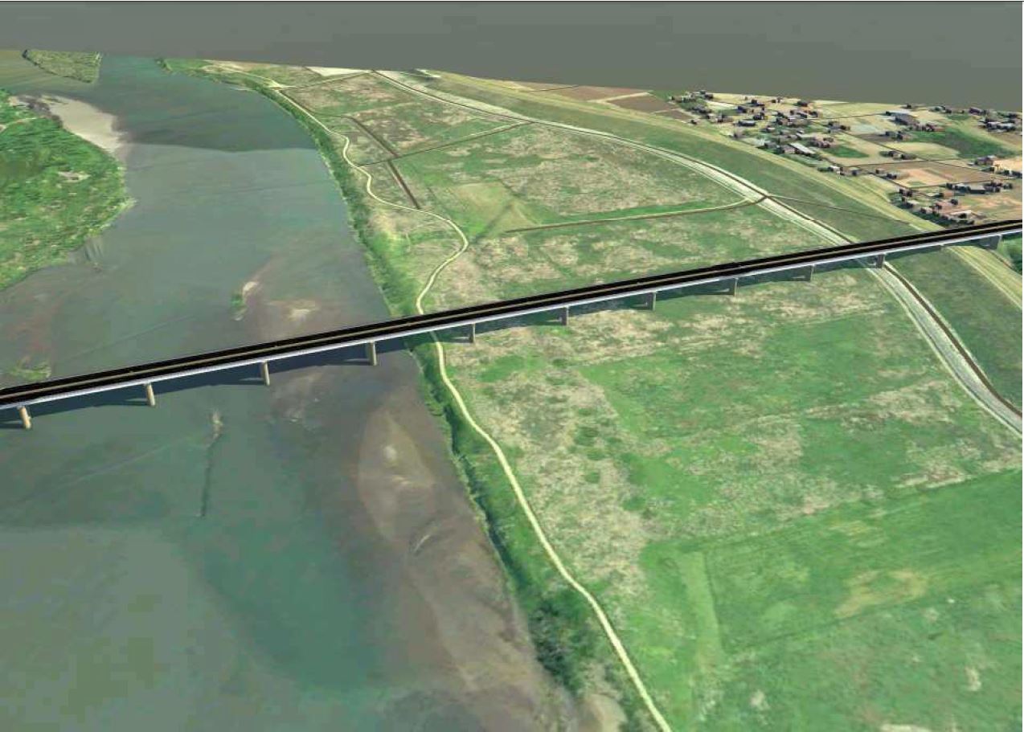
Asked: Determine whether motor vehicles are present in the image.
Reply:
No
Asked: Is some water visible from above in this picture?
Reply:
Yes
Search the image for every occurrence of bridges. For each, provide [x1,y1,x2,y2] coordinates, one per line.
[0,219,1024,429]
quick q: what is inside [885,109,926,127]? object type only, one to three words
barn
